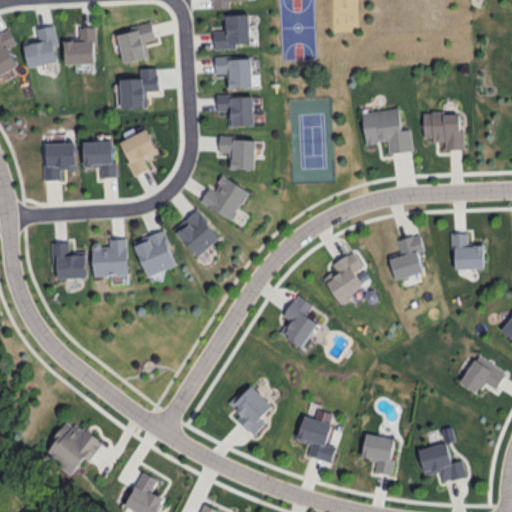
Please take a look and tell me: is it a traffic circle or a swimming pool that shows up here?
swimming pool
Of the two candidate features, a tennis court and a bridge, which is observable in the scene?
tennis court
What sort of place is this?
residential area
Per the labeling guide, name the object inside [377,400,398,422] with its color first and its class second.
blue swimming pool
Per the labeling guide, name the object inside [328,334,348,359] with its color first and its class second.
blue swimming pool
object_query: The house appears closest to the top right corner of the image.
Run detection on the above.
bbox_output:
[422,110,464,152]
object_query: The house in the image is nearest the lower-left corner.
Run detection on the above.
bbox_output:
[50,424,104,472]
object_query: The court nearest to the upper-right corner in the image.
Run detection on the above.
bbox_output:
[332,0,360,33]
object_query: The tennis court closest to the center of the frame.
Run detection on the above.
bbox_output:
[290,98,334,184]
